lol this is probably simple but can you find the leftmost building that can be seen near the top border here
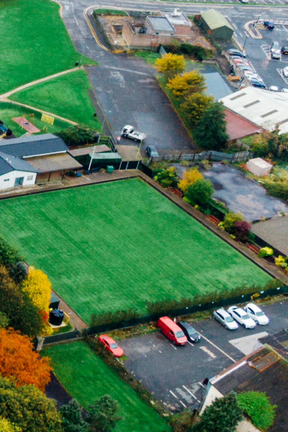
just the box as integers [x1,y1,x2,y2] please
[114,5,193,50]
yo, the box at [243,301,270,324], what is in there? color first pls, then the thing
white car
